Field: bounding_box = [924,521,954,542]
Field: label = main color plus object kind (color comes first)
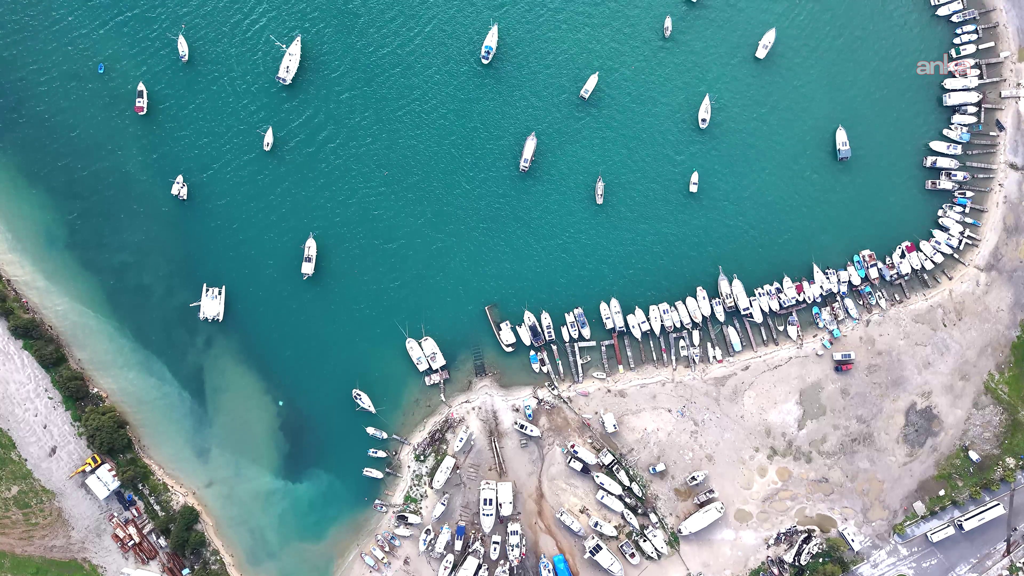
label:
white bus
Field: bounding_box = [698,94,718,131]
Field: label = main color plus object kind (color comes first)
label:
white boat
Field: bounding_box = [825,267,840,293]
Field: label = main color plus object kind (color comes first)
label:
white boat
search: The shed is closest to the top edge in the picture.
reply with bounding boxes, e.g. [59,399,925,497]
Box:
[84,463,123,500]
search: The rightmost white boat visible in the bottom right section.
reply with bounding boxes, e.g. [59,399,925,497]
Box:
[966,450,983,464]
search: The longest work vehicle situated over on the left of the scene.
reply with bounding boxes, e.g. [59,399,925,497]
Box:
[68,452,106,481]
